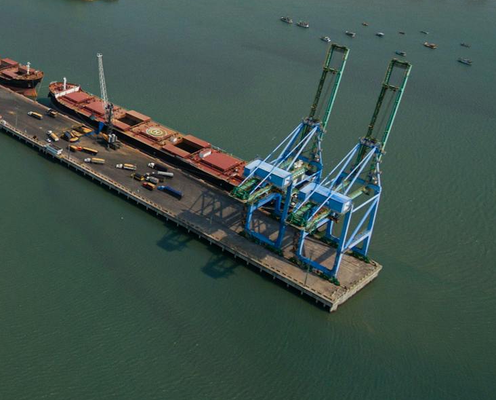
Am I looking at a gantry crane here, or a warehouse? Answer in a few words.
gantry crane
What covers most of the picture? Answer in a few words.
water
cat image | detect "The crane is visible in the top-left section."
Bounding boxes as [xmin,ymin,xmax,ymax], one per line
[96,53,125,151]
